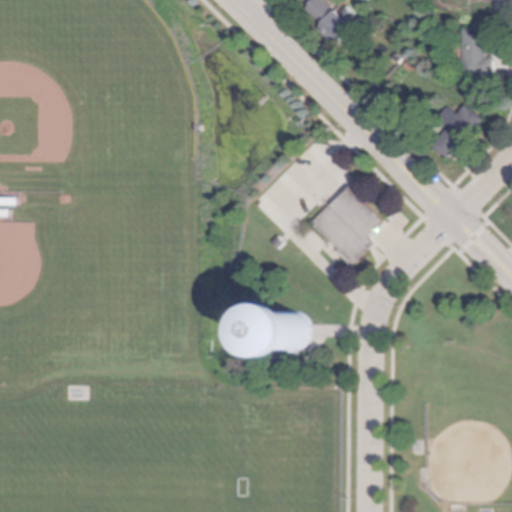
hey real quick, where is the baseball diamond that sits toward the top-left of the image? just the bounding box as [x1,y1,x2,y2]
[0,0,195,212]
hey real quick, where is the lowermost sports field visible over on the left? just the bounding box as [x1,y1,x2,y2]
[0,378,338,512]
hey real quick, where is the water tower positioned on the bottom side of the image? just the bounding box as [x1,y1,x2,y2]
[216,302,312,360]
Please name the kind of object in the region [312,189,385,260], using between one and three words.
building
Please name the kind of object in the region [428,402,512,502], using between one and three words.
baseball field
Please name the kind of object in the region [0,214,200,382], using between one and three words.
baseball field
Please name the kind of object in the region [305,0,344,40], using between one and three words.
house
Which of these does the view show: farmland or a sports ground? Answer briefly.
sports ground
